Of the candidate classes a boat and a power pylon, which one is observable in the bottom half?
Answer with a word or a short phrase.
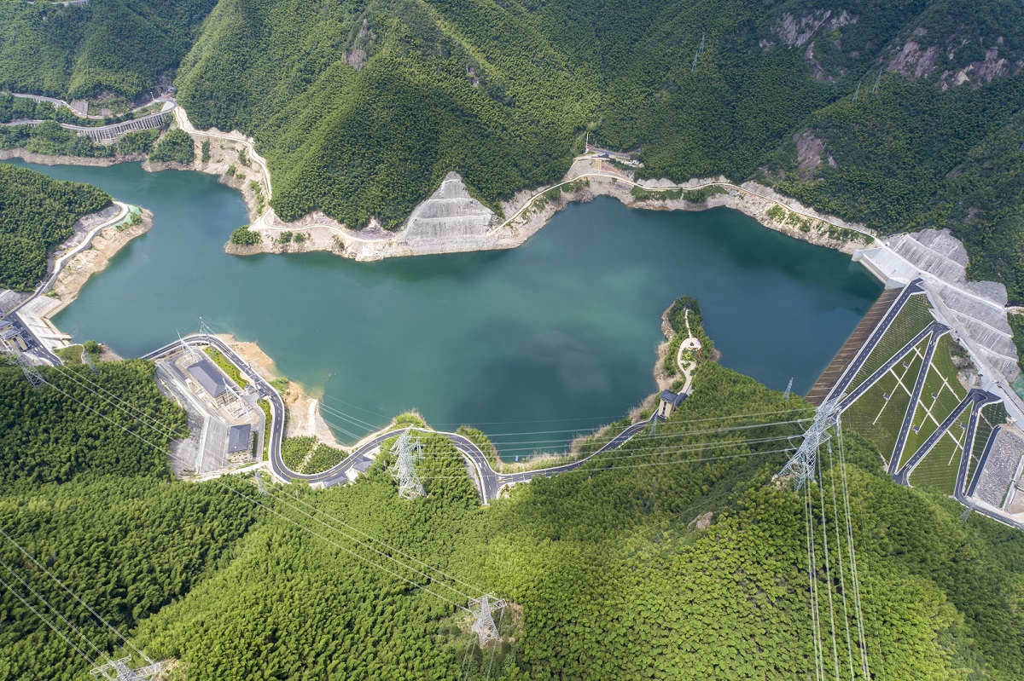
power pylon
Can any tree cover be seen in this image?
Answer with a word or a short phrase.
Yes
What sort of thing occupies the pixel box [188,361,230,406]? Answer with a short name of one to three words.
building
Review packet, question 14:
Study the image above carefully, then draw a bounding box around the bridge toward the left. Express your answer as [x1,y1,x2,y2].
[0,105,176,140]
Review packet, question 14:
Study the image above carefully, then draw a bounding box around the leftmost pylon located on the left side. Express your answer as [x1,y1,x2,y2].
[6,347,43,382]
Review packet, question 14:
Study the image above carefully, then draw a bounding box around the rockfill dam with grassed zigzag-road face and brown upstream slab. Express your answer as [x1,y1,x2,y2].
[810,278,1024,527]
